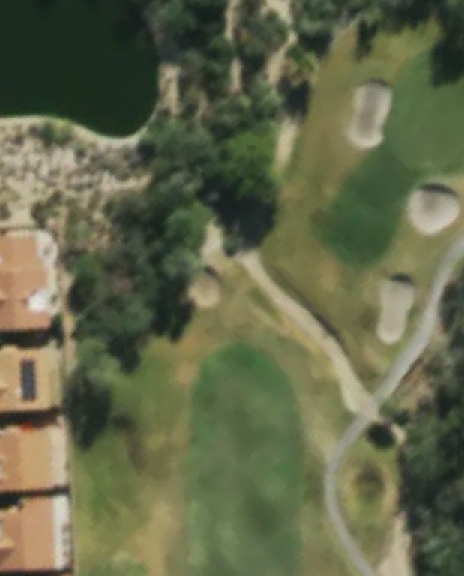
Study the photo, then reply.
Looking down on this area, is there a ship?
No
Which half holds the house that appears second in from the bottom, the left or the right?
left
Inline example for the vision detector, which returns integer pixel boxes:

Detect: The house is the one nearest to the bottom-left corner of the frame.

[0,496,71,570]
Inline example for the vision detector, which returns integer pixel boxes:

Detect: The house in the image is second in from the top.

[0,344,63,412]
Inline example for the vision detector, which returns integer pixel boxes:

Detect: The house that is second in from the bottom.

[0,423,66,493]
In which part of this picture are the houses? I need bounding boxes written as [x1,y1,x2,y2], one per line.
[0,344,63,412]
[0,230,60,331]
[0,496,71,570]
[0,423,66,493]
